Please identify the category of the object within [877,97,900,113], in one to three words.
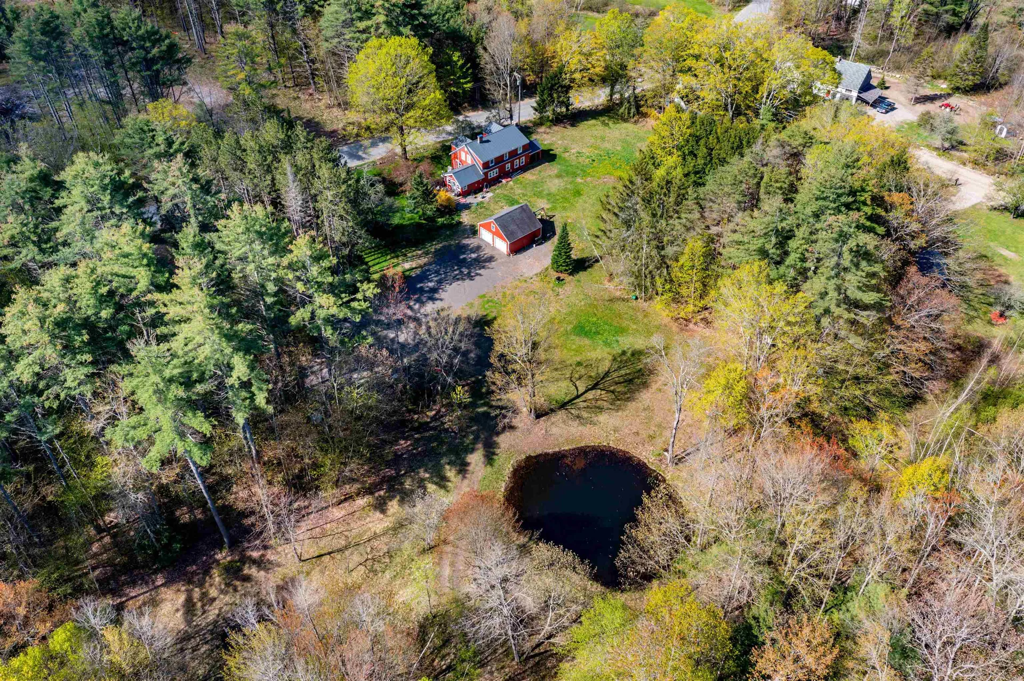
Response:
vehicle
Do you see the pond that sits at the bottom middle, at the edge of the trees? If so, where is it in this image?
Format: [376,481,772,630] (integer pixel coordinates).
[501,446,681,593]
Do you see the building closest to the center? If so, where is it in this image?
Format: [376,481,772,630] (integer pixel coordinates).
[477,202,542,255]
